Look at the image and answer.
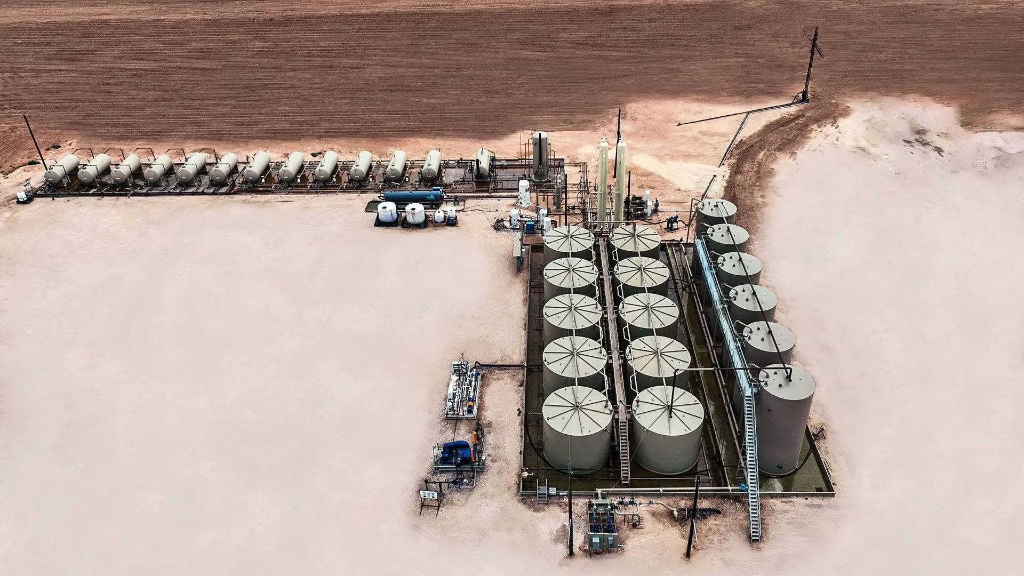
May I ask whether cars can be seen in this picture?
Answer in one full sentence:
No, the scene contains no car.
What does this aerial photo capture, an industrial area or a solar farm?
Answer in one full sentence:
The picture captures an industrial area.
